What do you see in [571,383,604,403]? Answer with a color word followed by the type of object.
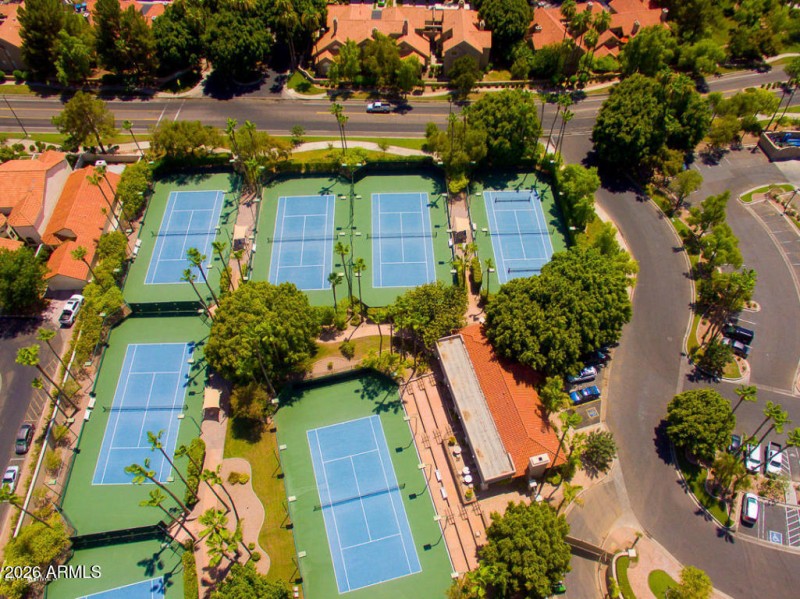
blue car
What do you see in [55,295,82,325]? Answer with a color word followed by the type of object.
white truck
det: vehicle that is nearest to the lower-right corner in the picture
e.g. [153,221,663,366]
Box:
[741,491,763,529]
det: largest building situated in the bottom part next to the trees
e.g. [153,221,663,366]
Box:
[434,320,571,486]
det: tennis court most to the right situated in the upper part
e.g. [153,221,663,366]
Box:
[469,176,584,297]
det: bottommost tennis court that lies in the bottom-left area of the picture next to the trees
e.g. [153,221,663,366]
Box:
[46,537,179,599]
